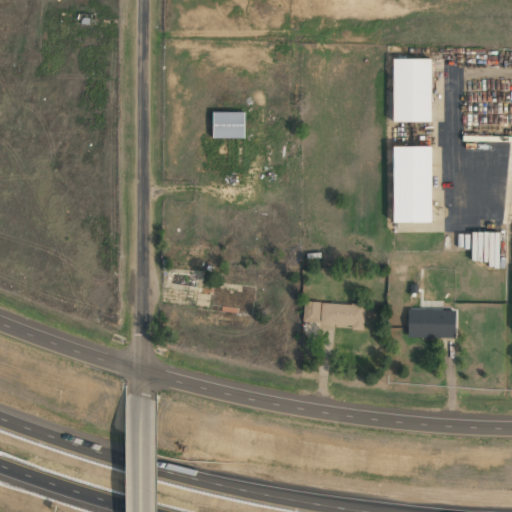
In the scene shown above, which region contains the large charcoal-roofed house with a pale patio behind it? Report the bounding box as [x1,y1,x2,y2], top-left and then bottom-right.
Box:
[409,307,456,338]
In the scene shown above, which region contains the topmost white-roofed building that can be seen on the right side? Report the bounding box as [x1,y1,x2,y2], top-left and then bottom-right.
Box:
[394,58,433,122]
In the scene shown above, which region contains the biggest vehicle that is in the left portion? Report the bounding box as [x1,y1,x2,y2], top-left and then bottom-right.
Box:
[157,460,198,476]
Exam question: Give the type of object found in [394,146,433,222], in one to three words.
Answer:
building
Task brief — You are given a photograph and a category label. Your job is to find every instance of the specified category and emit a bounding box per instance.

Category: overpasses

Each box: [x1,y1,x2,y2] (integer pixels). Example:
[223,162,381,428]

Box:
[114,384,158,512]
